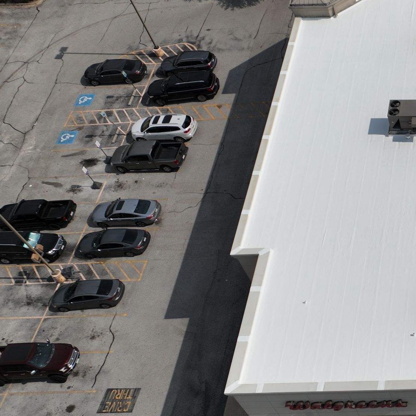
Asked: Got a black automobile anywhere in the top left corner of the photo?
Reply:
Yes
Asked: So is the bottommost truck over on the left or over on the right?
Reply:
left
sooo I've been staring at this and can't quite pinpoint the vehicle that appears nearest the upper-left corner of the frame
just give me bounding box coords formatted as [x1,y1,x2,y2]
[79,59,144,85]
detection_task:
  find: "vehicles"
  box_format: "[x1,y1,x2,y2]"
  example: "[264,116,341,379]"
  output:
[147,71,218,104]
[46,276,126,310]
[75,225,150,258]
[79,59,144,85]
[159,51,219,78]
[0,194,83,229]
[107,138,193,173]
[131,111,200,140]
[0,342,84,384]
[87,196,160,226]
